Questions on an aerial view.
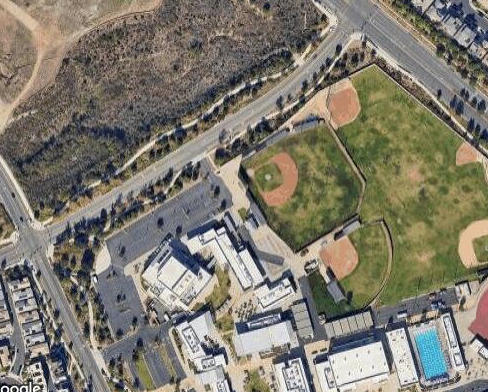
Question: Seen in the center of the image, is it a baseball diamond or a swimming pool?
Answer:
baseball diamond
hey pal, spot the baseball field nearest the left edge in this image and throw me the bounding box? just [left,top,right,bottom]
[242,152,299,205]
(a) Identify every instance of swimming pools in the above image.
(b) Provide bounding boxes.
[408,318,458,391]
